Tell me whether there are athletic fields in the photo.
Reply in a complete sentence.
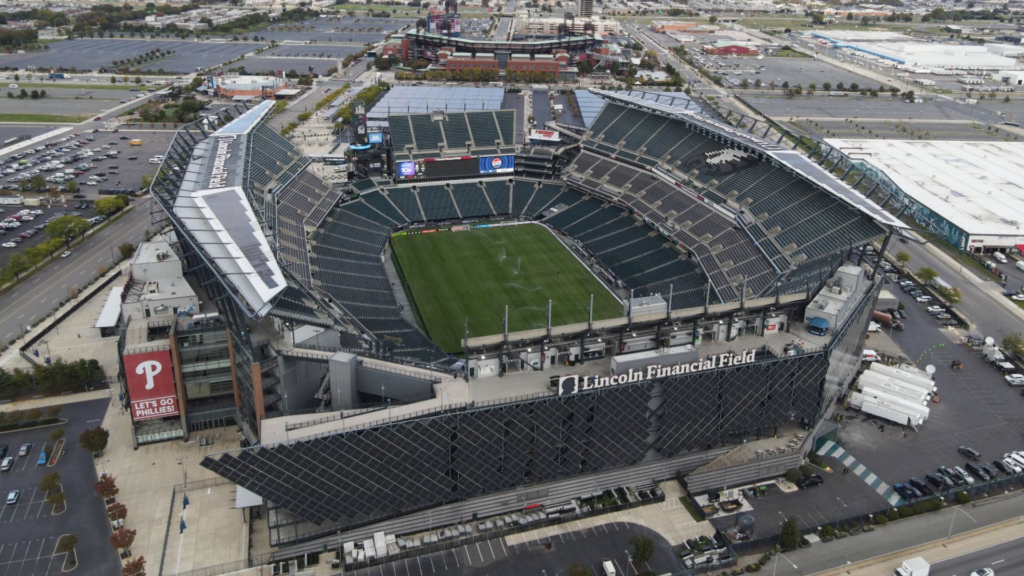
Yes, the image includes an athletic field.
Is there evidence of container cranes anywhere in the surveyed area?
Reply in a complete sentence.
No, the frame has no container crane in it.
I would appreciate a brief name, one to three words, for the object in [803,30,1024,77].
building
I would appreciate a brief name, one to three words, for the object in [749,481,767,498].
work vehicle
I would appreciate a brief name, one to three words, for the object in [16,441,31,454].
vehicle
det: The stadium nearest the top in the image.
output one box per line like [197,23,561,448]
[382,0,636,82]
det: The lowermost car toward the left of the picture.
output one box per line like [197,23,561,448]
[4,488,20,503]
